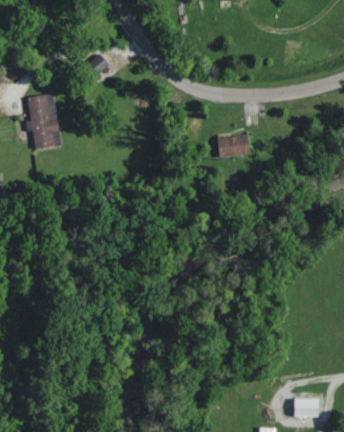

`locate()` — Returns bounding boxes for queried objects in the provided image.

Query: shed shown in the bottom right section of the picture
[294,398,319,418]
